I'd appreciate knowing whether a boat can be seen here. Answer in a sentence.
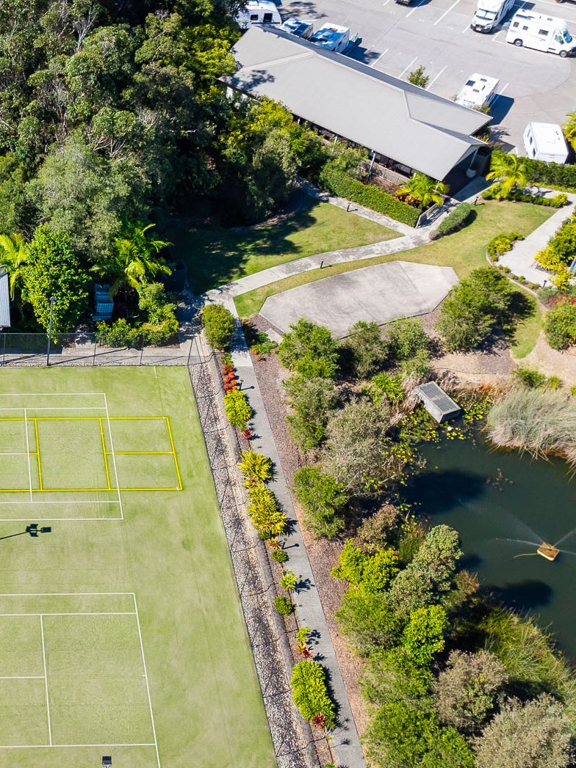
No, no boat is visible in the view.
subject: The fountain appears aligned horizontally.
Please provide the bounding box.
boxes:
[515,542,559,559]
